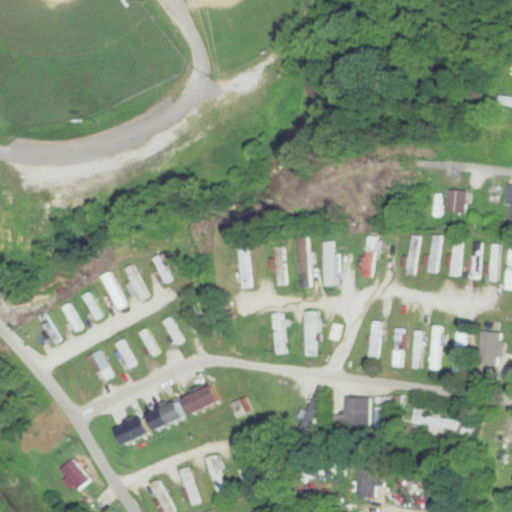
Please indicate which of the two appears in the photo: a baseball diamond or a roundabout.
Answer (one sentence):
Looking from above, you can make out a baseball diamond.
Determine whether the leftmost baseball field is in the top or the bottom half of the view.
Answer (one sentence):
Seen from above, the leftmost baseball field lies in the top half of the view.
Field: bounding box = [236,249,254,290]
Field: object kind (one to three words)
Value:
house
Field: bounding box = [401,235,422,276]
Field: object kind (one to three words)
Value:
house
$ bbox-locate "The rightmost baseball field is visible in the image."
[186,0,294,76]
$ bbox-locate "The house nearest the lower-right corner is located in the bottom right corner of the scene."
[412,409,476,438]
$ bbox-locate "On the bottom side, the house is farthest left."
[38,312,62,344]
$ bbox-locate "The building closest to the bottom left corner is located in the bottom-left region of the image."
[60,460,92,492]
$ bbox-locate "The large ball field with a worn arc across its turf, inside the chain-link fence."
[0,0,184,126]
